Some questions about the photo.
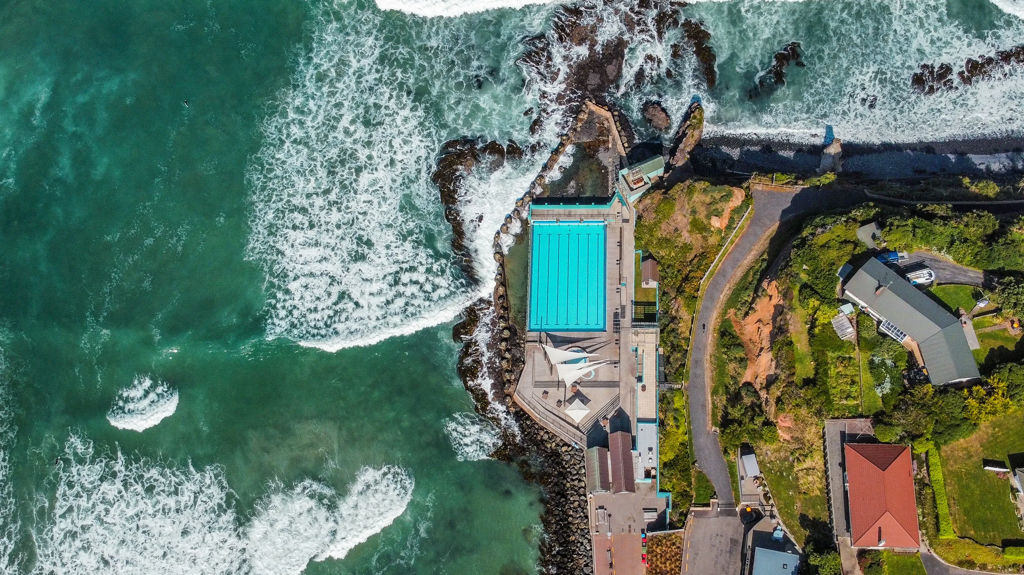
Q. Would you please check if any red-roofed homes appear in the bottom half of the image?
Yes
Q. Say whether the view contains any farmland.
No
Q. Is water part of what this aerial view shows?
Yes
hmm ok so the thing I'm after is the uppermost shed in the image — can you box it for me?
[617,154,665,204]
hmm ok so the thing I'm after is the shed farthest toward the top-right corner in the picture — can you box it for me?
[856,222,881,243]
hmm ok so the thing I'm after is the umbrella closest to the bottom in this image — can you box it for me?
[564,398,590,424]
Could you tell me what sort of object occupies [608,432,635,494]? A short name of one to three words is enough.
building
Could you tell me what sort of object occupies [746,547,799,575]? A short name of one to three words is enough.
house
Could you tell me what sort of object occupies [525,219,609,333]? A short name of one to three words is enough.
swimming pool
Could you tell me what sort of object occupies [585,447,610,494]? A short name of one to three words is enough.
building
